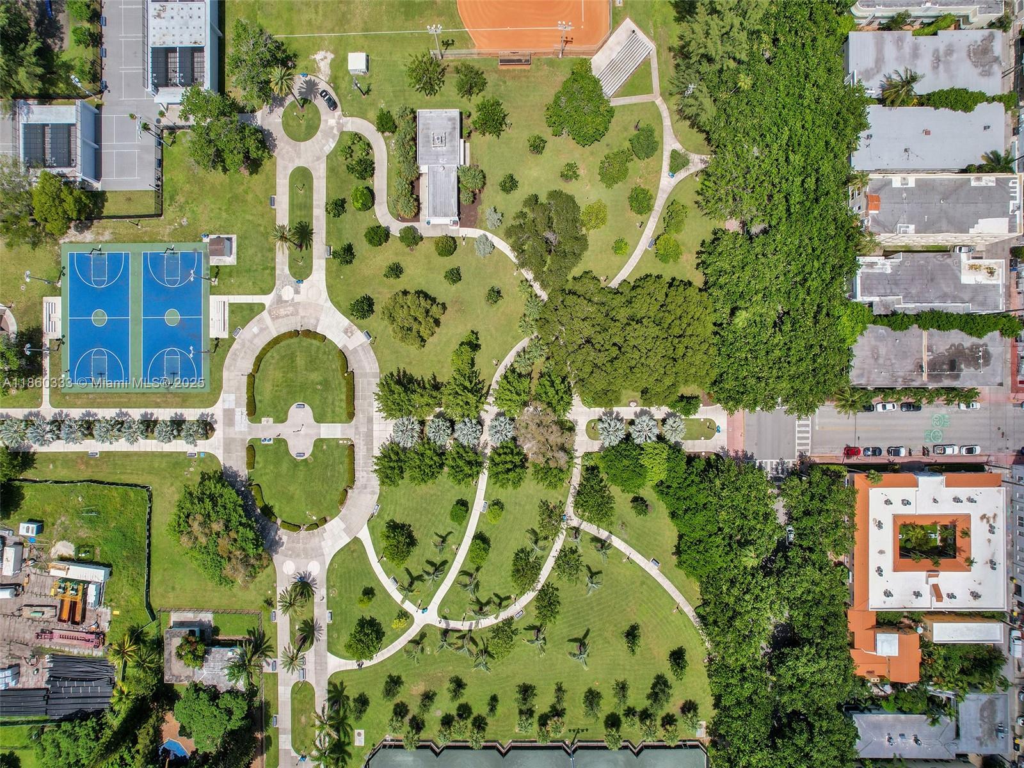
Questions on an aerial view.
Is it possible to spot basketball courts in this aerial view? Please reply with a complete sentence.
Yes, the frame does contain a basketball court.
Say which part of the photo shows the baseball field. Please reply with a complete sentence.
The baseball field is located in the top region of the scene.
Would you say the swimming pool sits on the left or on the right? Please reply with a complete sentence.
The swimming pool sits on the left side.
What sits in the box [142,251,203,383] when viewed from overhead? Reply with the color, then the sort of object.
blue basketball court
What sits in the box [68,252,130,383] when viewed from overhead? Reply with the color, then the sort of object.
blue basketball court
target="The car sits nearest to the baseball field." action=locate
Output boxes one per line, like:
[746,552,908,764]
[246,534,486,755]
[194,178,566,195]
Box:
[318,86,337,109]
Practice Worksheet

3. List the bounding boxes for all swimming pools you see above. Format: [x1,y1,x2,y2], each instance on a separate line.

[157,737,189,768]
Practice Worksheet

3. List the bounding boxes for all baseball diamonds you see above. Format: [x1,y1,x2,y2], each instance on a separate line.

[281,0,609,54]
